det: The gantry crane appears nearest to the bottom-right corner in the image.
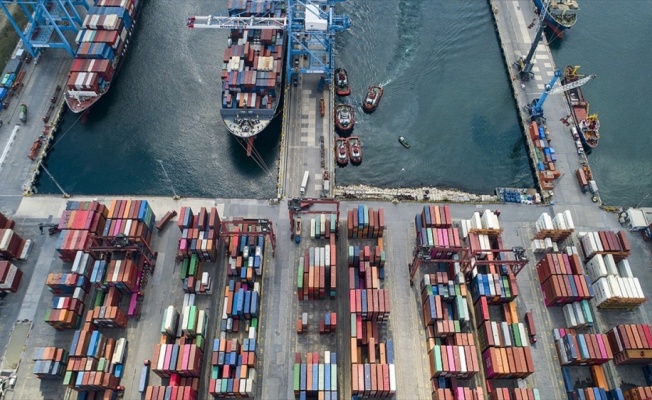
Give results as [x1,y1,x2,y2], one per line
[459,248,528,287]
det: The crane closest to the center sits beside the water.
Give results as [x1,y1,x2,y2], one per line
[288,202,340,240]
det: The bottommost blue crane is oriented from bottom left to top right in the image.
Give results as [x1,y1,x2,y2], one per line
[520,75,590,118]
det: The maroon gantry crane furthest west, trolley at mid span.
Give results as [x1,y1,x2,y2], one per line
[79,236,153,276]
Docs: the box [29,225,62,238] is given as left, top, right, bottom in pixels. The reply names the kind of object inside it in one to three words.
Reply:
vehicle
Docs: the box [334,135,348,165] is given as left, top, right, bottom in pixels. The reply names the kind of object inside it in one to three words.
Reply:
boat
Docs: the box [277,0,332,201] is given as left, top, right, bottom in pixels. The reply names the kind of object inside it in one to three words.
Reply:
pier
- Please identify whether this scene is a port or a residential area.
port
